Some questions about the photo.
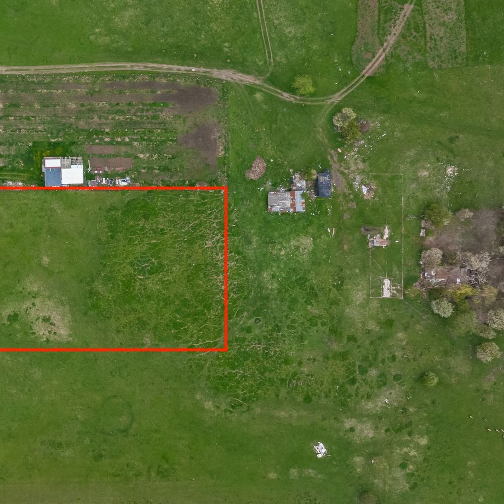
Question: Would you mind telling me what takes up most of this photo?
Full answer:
For the most part, this view shows grass.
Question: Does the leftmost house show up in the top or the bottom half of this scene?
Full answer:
Seen from above, the leftmost house lies in the top half of the view.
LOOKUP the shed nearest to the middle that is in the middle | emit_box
[266,191,305,212]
